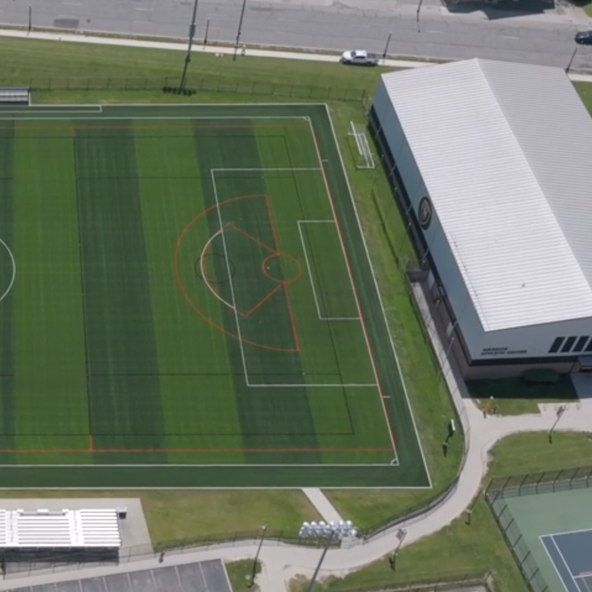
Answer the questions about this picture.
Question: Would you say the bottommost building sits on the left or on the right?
right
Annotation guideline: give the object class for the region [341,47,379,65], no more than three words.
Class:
vehicle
